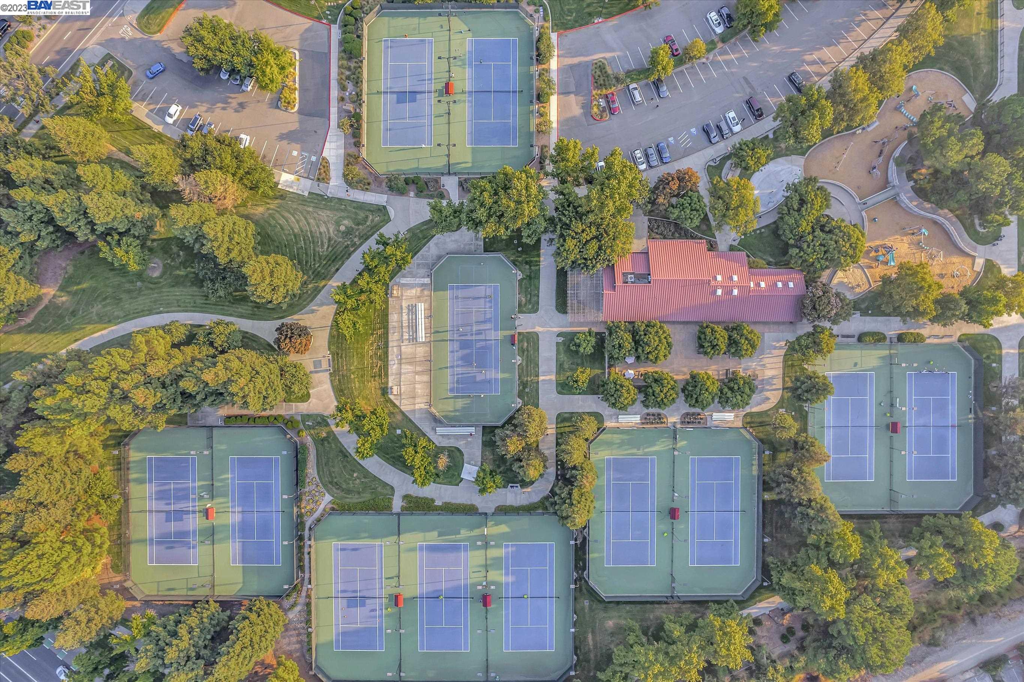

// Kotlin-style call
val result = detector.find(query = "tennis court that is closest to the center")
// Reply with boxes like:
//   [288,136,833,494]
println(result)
[431,255,516,424]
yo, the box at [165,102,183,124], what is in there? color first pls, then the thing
white car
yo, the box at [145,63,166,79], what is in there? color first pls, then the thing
blue car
